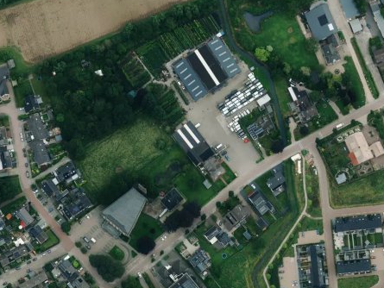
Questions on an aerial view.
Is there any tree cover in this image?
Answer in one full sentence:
Yes, the picture does contain tree cover.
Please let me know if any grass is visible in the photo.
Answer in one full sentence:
Yes, the picture does contain grass.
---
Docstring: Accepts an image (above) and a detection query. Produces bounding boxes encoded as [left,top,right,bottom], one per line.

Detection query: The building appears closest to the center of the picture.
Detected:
[174,121,215,165]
